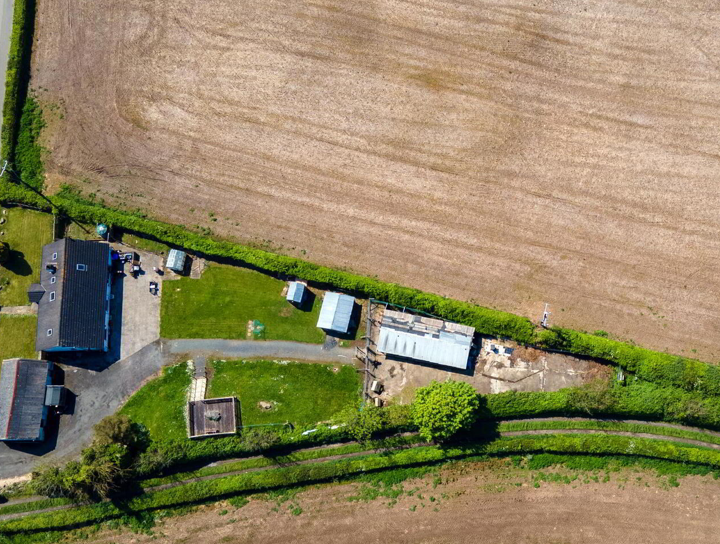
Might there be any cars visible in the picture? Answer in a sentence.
No, I can't see a single car in this photo.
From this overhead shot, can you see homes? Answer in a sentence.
Yes, the frame does contain a home.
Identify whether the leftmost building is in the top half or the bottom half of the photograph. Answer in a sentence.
The leftmost building sits in the bottom half of the picture.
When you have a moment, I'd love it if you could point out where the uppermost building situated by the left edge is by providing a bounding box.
[28,236,119,354]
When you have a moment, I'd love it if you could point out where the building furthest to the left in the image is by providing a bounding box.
[0,359,57,440]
